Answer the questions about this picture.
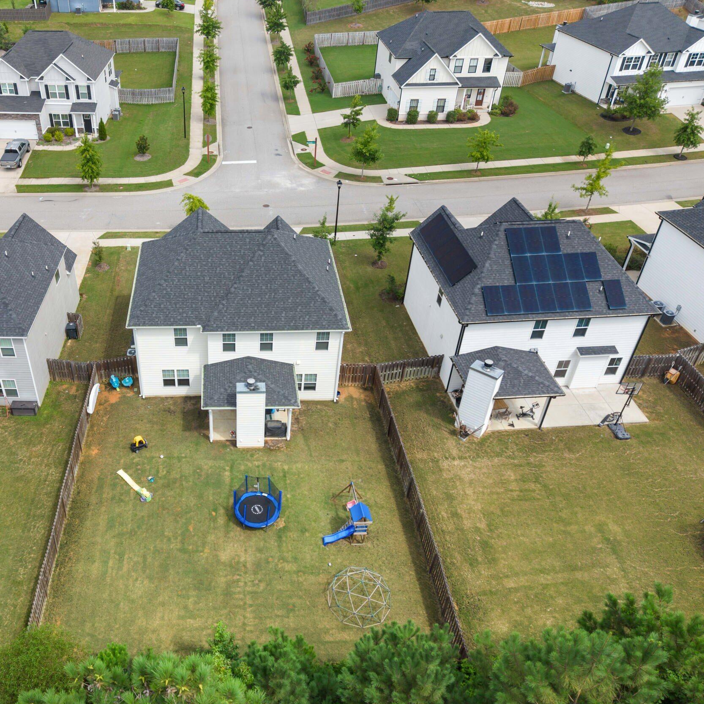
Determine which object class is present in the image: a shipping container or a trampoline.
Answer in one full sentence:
The image shows a trampoline.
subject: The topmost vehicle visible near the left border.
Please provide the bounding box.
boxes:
[2,143,28,165]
